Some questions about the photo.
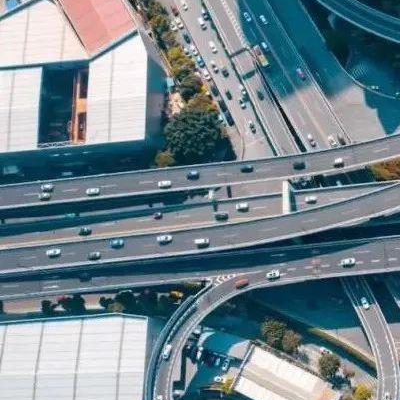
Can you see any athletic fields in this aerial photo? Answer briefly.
No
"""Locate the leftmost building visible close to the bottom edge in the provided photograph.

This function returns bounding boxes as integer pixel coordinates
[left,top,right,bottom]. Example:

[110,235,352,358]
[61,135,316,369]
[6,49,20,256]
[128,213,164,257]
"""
[0,314,163,400]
